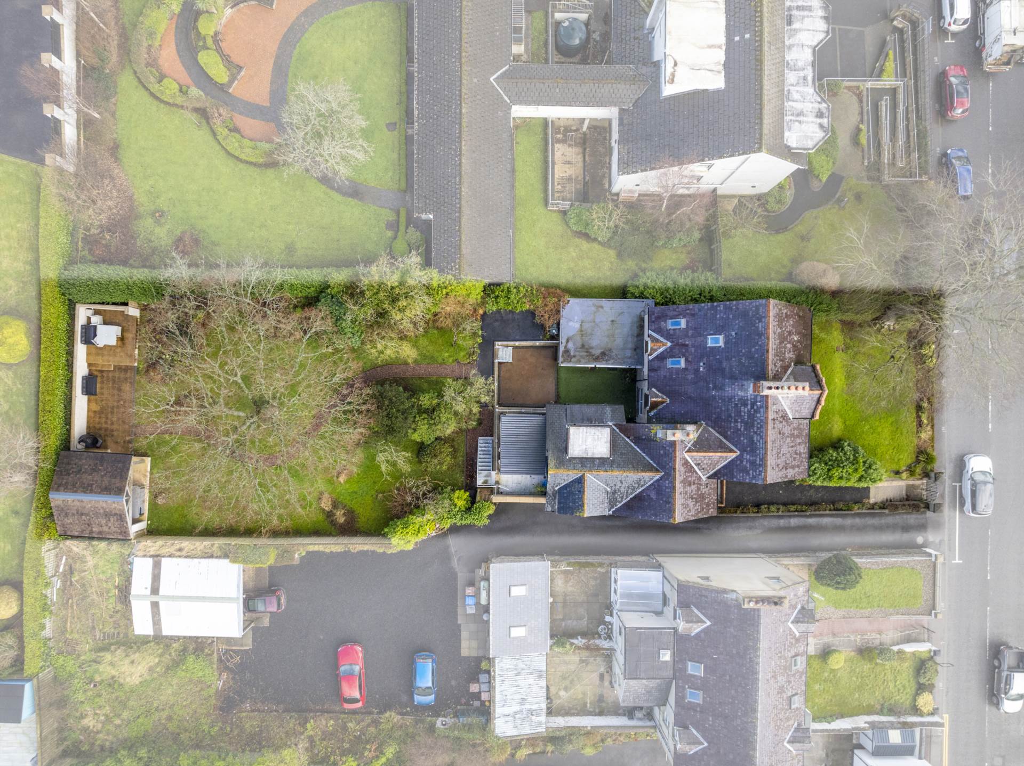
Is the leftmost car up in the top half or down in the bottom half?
bottom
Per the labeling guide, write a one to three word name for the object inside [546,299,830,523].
house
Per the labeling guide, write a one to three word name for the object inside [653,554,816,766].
house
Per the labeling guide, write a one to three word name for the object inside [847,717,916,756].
building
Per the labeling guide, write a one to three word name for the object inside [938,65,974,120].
car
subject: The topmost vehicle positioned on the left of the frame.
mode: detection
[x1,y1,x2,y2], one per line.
[243,585,284,614]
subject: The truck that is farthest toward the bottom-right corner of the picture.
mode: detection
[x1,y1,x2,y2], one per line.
[988,644,1024,714]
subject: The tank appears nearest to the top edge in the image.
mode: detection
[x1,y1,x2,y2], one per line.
[558,14,591,54]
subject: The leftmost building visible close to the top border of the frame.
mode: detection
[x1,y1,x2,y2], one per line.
[412,0,515,284]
